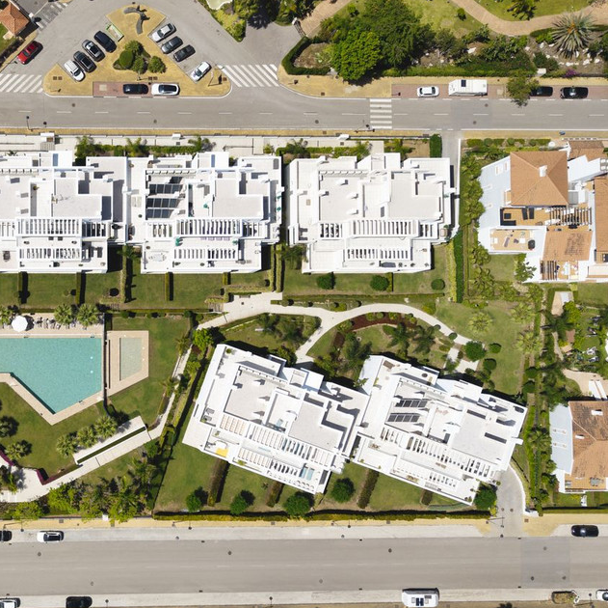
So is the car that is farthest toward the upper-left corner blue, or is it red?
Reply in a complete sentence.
From above, the car that is farthest toward the upper-left corner appears red.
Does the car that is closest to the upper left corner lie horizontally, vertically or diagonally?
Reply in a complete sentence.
The car that is closest to the upper left corner has been laid out diagonally relative to the frame.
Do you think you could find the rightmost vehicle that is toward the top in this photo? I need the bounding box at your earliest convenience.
[559,86,589,99]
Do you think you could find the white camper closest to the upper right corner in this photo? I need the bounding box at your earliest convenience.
[444,78,485,98]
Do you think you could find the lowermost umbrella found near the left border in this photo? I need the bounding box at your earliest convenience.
[11,314,28,332]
